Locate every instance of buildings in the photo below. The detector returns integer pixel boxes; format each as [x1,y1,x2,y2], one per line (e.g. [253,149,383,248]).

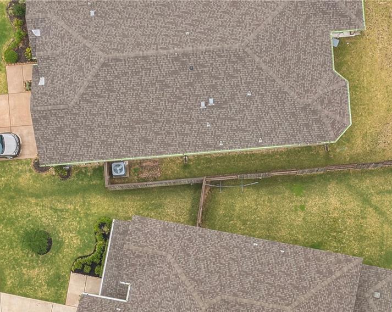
[25,0,367,168]
[77,216,392,312]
